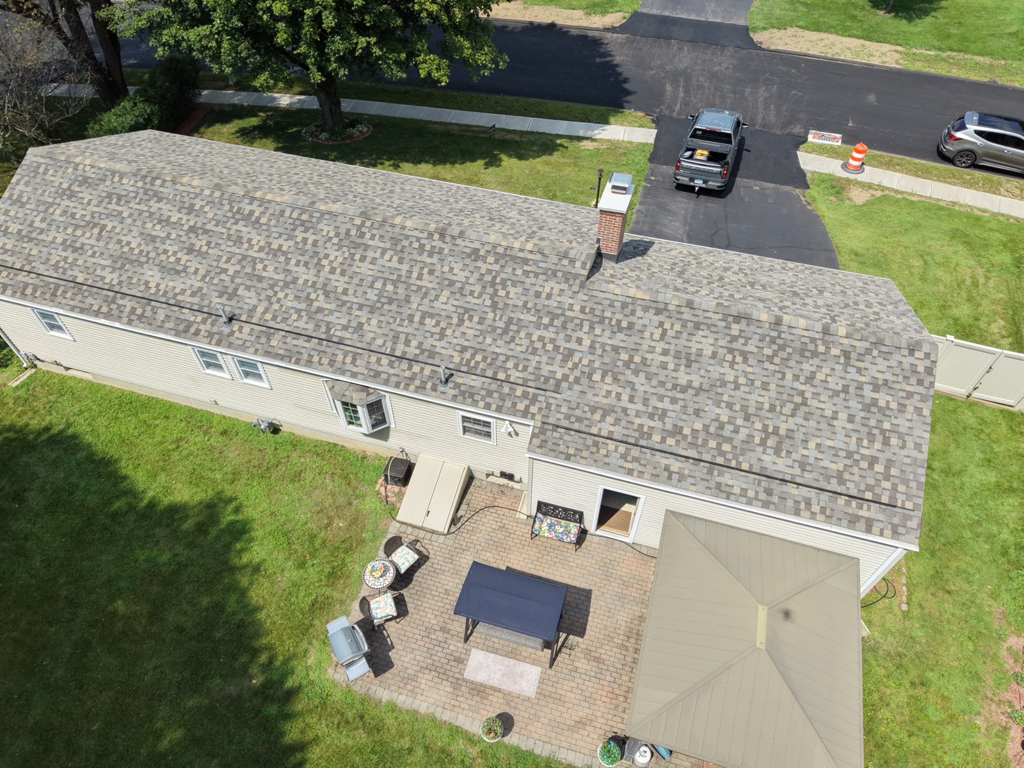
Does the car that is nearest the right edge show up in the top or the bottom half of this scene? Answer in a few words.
top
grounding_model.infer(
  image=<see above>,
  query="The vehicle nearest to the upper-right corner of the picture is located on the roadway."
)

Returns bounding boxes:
[939,114,1024,180]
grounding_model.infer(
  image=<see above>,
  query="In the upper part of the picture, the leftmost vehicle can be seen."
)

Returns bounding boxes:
[675,101,750,194]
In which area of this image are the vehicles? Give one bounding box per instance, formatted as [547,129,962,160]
[939,114,1024,180]
[675,101,750,194]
